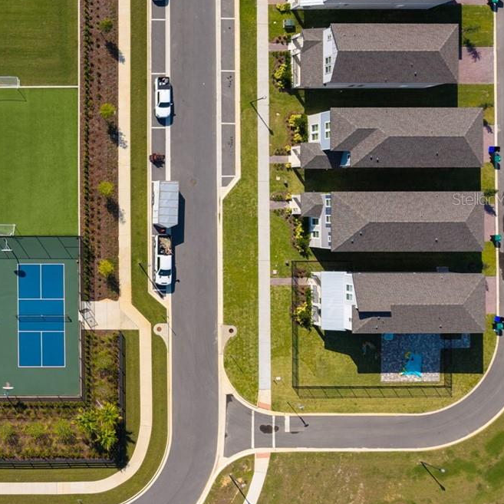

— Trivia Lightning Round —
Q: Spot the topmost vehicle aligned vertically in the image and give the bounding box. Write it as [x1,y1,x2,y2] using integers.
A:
[153,77,174,120]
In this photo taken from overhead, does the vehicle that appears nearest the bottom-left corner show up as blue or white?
white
